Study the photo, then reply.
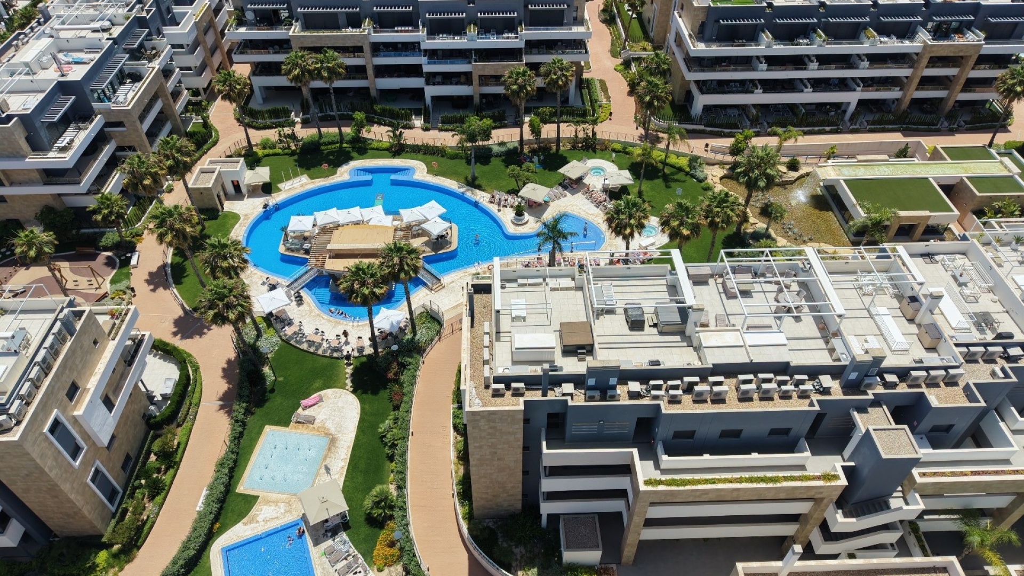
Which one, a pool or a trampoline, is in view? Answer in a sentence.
The one in the frame is a pool.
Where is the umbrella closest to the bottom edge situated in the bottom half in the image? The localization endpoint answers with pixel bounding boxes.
[296,479,352,532]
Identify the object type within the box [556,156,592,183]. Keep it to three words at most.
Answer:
umbrella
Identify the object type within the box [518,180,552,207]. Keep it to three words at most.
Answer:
umbrella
